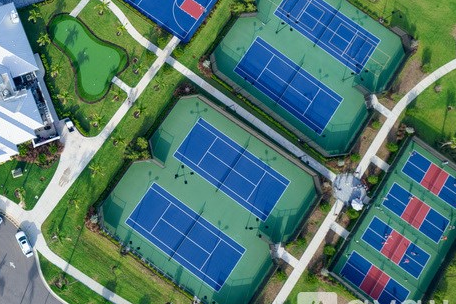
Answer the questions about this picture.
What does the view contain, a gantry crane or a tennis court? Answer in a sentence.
This aerial view contains a tennis court.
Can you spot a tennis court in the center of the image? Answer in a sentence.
Yes, a tennis court appears in the center of the image.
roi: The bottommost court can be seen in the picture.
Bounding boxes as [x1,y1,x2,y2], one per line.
[336,248,414,304]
